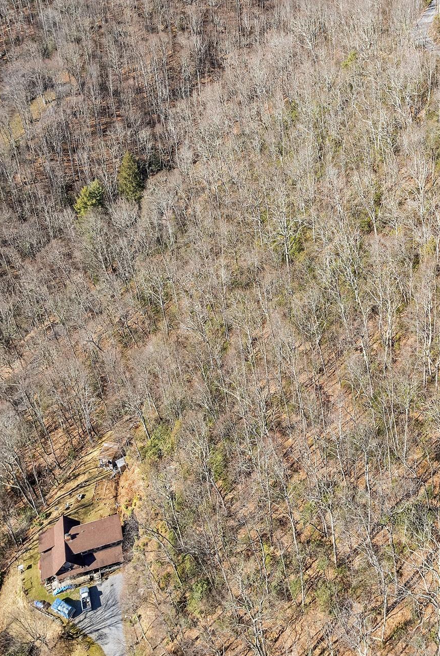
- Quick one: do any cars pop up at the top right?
No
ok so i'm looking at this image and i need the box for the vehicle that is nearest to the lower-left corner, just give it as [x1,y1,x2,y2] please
[49,594,76,619]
